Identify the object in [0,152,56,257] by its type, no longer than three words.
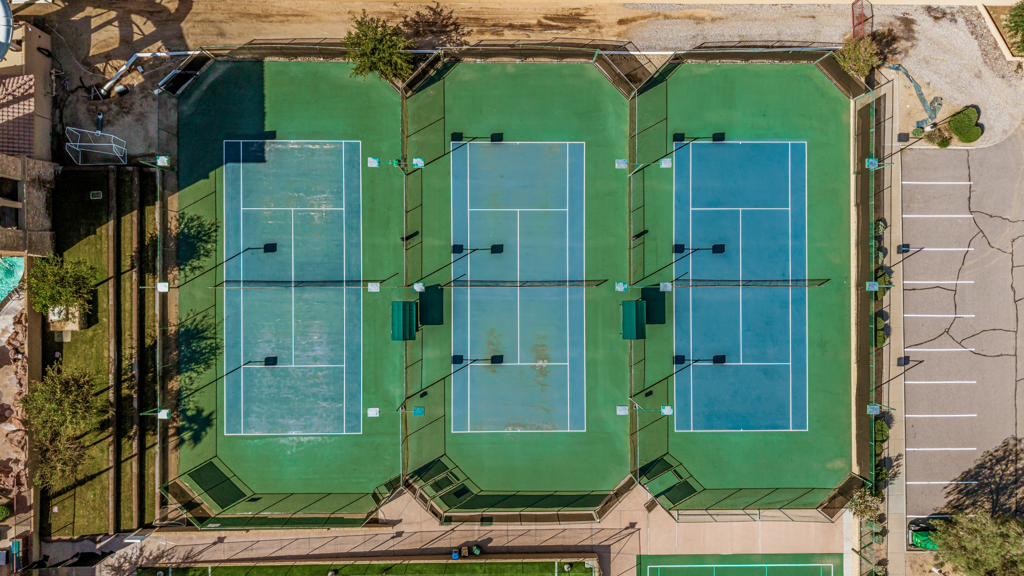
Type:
building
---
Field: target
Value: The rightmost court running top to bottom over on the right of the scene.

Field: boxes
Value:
[630,63,851,509]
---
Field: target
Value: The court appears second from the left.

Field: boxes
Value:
[407,62,630,512]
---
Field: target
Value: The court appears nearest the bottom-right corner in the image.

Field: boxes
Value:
[636,554,844,576]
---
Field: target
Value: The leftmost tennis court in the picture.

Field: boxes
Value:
[178,61,407,516]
